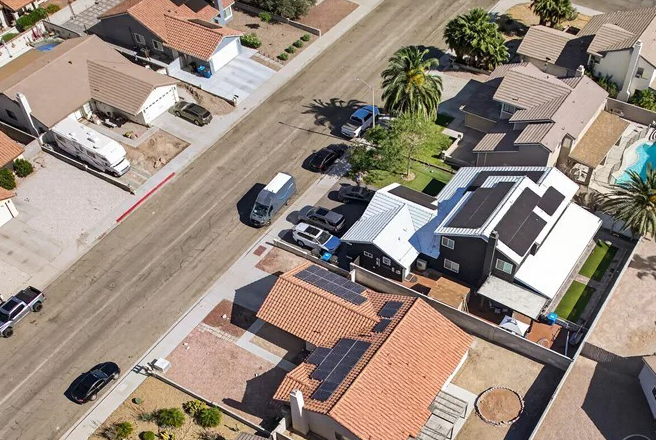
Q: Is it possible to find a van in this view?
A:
Yes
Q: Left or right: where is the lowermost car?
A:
left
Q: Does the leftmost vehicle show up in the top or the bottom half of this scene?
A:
bottom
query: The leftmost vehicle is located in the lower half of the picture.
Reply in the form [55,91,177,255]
[0,286,47,342]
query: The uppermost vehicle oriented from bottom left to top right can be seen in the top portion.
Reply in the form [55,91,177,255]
[340,99,382,137]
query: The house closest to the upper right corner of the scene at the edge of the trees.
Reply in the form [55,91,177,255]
[516,5,656,104]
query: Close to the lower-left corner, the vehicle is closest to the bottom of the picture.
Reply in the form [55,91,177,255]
[65,358,122,407]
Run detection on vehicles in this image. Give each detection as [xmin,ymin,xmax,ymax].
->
[168,99,214,126]
[309,201,360,233]
[336,179,378,206]
[340,99,382,137]
[243,168,296,227]
[308,140,345,171]
[65,358,122,407]
[0,286,47,342]
[49,114,136,178]
[294,217,345,252]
